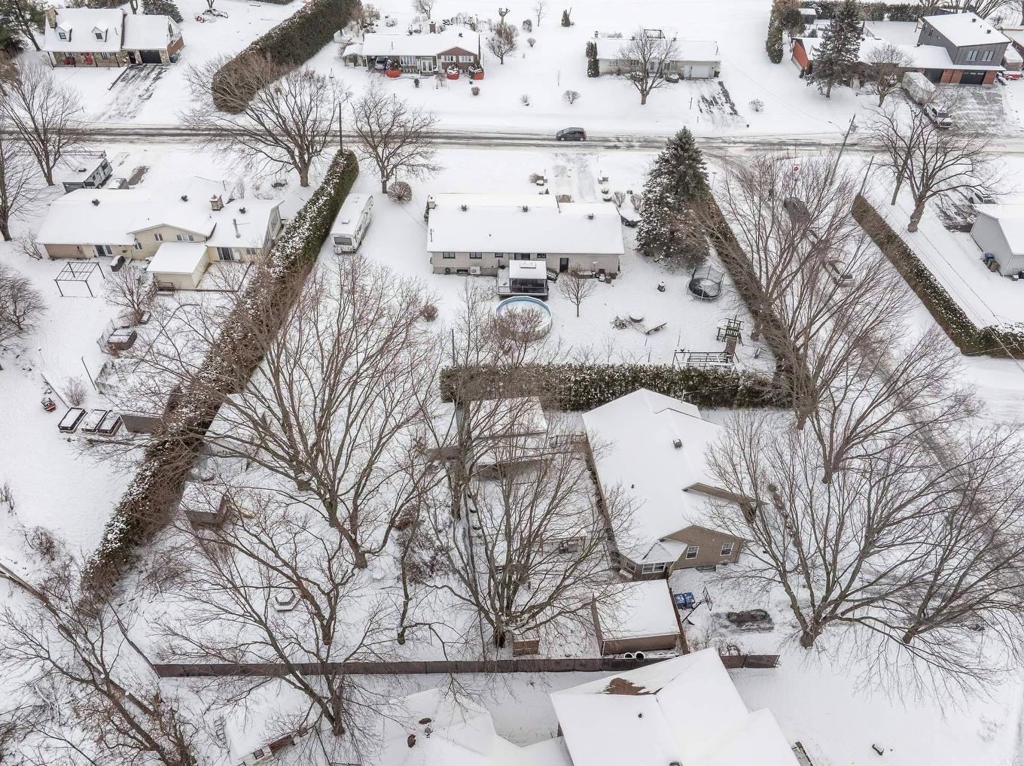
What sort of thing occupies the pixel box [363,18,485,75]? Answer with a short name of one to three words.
house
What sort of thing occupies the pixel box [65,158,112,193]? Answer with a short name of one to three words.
trailer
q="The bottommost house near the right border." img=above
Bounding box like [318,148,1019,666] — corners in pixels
[953,198,1024,276]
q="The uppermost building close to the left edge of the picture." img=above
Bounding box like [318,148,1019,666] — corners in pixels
[38,5,191,68]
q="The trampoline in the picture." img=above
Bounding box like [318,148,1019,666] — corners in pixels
[685,263,729,308]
